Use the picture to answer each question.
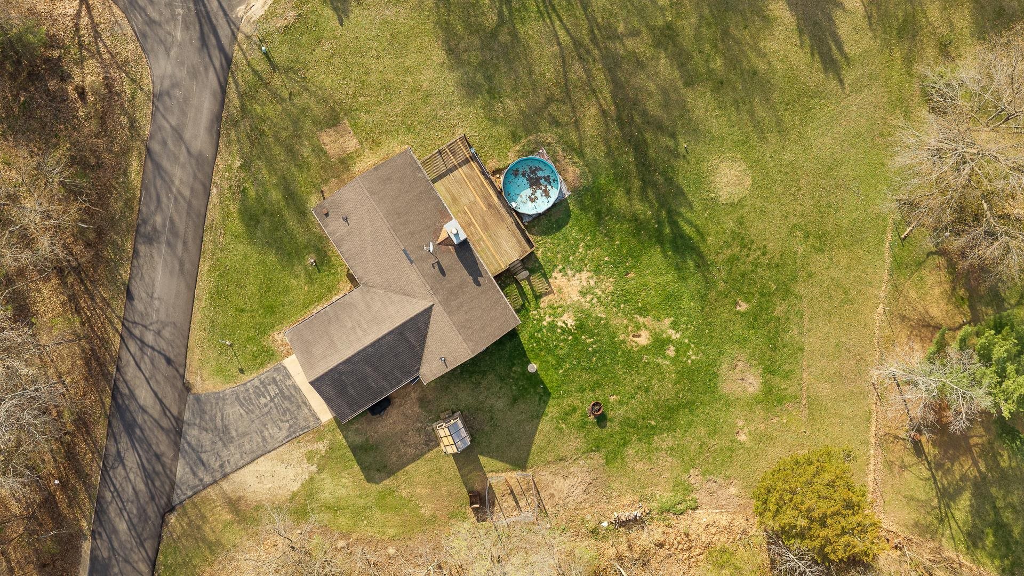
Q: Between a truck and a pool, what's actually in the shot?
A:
pool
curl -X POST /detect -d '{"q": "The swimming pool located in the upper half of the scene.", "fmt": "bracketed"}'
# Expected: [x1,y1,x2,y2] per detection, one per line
[502,155,563,217]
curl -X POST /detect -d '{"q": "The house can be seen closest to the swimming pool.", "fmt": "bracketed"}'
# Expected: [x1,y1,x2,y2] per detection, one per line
[285,149,520,424]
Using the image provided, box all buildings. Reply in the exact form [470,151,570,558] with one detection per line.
[285,149,520,424]
[435,408,476,454]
